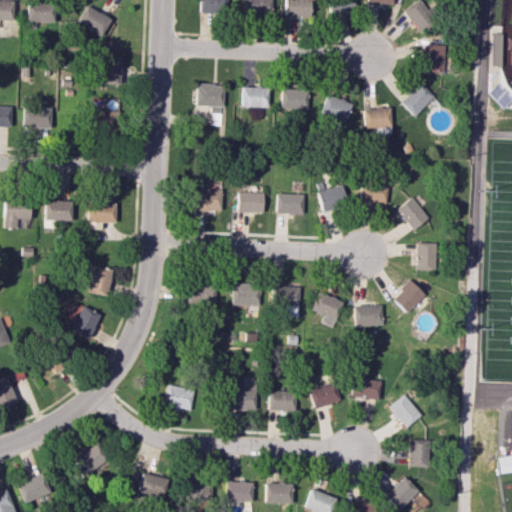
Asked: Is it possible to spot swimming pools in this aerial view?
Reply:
Yes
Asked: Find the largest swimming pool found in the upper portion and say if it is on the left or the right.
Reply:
right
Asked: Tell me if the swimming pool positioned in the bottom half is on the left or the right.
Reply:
right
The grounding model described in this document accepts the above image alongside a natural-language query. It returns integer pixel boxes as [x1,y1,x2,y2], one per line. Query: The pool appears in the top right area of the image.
[426,106,456,136]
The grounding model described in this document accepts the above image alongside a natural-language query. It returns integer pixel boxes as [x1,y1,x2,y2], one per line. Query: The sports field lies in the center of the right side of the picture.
[482,142,512,381]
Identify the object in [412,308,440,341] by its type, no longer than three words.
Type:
swimming pool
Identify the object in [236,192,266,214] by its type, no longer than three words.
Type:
house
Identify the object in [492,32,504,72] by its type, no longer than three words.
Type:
building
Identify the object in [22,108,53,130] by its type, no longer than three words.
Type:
house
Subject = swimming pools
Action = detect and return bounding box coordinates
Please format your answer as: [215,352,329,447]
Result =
[426,106,456,136]
[412,308,440,341]
[106,98,119,111]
